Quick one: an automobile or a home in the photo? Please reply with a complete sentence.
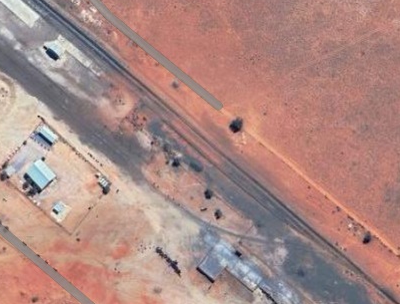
I can see a home in this picture.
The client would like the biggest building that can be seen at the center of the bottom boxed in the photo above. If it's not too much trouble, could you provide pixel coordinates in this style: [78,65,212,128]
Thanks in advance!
[199,252,227,281]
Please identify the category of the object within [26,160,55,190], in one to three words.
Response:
house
